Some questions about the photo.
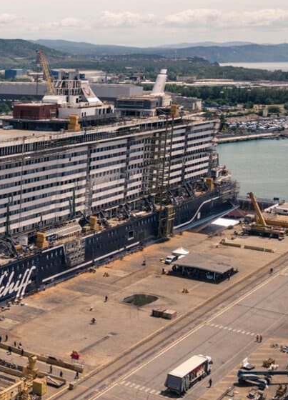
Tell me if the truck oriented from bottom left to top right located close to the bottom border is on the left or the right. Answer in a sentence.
It is on the right.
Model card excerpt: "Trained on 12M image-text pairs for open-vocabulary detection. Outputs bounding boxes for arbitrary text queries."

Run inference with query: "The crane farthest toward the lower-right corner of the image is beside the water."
[246,192,288,237]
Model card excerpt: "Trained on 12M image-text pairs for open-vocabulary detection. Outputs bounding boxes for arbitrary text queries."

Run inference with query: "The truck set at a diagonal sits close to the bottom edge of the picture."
[167,353,213,394]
